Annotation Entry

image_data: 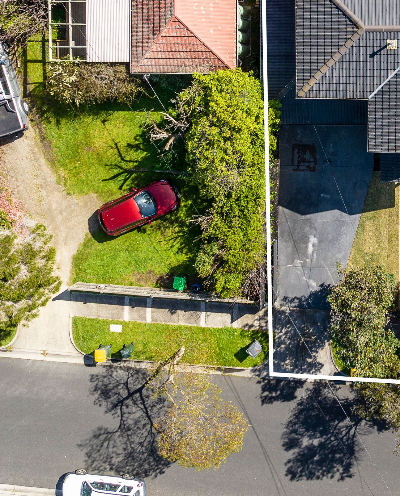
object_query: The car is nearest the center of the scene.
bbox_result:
[92,176,187,238]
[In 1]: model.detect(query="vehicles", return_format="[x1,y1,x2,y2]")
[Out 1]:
[92,176,187,238]
[61,467,148,496]
[0,36,31,140]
